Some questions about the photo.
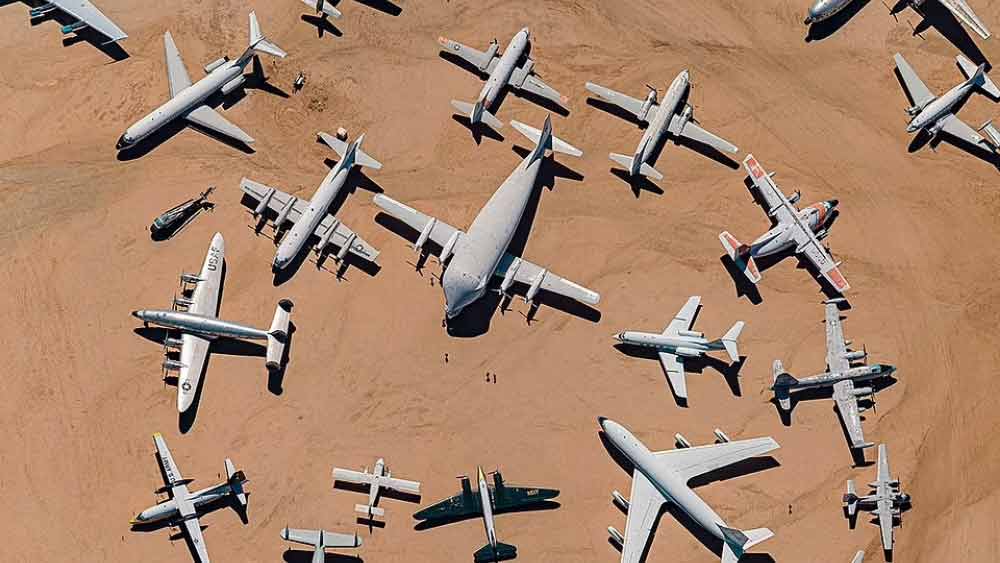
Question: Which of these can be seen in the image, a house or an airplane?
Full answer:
The one in the frame is an airplane.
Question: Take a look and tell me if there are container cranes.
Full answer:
No, I can see no container crane in this picture.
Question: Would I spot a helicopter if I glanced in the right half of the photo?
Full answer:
No, no helicopter can be made out in the right half of the photo.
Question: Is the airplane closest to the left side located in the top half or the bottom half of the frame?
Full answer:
The airplane closest to the left side is in the top half of the image.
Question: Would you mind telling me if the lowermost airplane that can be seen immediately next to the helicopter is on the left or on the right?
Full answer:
The lowermost airplane that can be seen immediately next to the helicopter is on the left side of the image.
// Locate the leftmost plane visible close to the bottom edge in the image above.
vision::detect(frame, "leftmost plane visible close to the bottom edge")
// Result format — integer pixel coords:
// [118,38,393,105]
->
[129,431,248,563]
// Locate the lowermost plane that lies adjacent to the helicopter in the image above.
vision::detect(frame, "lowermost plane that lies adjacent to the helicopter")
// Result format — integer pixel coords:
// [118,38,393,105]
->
[132,232,293,411]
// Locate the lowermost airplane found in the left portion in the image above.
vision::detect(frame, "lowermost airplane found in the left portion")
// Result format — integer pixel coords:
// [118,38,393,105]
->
[280,524,363,563]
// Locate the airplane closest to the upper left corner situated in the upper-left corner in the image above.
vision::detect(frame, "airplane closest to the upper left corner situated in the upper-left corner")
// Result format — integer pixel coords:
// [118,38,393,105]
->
[34,0,132,45]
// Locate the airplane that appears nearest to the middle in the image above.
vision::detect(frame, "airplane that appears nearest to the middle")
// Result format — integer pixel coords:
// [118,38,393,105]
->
[374,117,600,317]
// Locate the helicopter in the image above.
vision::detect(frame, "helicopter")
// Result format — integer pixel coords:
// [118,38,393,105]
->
[150,181,218,227]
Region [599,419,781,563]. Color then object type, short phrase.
white airplane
